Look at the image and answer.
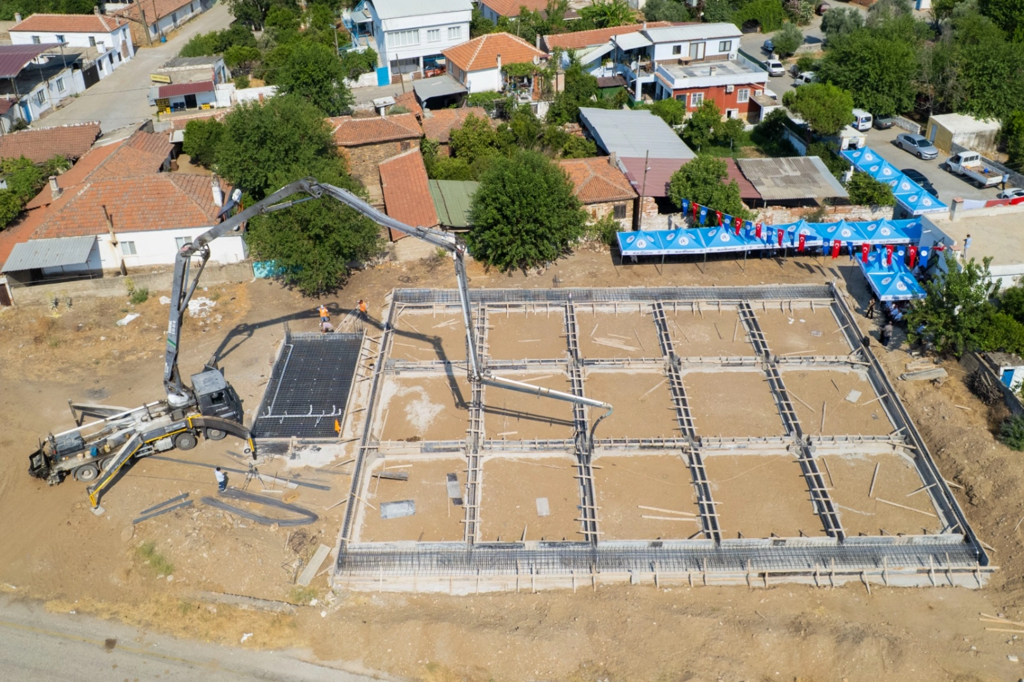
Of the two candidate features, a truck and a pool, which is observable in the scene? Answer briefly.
truck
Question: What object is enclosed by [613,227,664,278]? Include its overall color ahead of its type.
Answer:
blue tent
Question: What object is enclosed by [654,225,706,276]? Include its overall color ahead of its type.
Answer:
blue tent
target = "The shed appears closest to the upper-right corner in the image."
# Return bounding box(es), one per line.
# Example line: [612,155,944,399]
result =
[927,105,1008,154]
